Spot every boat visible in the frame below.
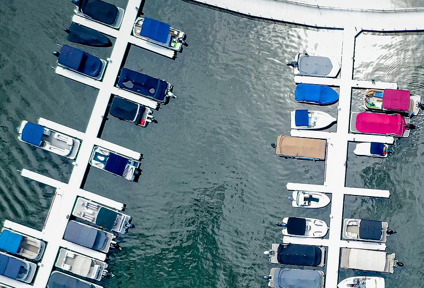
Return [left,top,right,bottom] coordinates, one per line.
[353,142,397,158]
[0,251,37,281]
[55,247,111,280]
[48,272,102,288]
[129,16,190,52]
[339,249,403,273]
[346,111,415,137]
[261,243,328,267]
[72,196,133,235]
[112,67,177,104]
[14,122,80,162]
[64,221,120,252]
[50,45,108,80]
[70,0,129,28]
[108,96,157,127]
[269,135,328,160]
[0,228,46,260]
[261,267,328,288]
[283,191,329,208]
[360,88,424,115]
[63,23,113,49]
[88,147,147,180]
[277,217,329,237]
[338,218,395,241]
[337,277,388,288]
[295,84,339,105]
[290,110,337,129]
[289,55,340,77]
